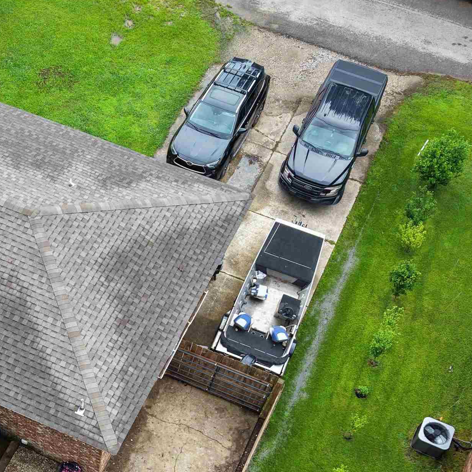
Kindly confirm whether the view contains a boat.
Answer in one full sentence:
Yes, you can see a boat in this photo.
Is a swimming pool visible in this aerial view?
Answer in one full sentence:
No, there is no swimming pool in the image.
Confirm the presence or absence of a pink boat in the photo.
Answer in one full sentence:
No, I find no pink boat anywhere in the image.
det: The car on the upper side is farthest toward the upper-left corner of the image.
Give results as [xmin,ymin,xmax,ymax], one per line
[168,55,272,182]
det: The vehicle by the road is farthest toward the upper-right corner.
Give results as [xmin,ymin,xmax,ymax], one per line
[277,56,393,209]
